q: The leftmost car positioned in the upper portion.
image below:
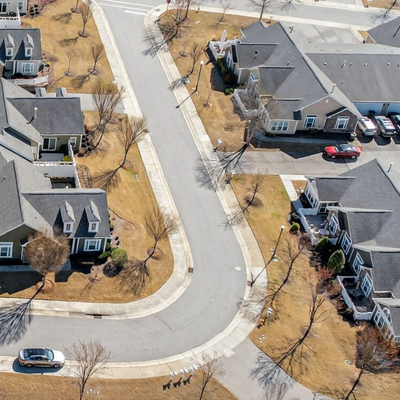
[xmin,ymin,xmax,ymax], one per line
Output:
[324,141,366,158]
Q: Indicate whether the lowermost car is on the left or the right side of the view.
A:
left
